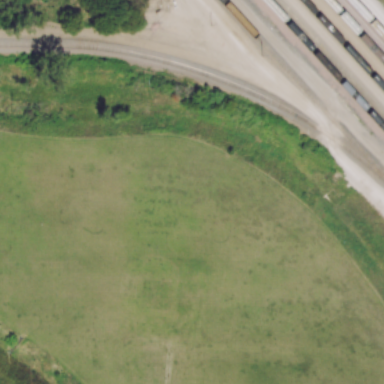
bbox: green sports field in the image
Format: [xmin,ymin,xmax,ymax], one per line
[0,130,384,384]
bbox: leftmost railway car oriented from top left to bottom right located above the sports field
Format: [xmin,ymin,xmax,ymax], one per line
[226,0,261,38]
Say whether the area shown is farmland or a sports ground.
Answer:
sports ground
